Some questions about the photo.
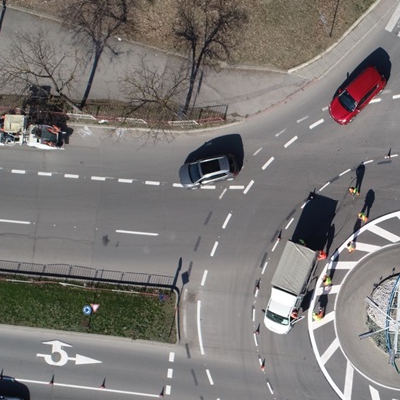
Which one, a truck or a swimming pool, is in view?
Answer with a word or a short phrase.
truck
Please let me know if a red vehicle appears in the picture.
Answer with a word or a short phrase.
Yes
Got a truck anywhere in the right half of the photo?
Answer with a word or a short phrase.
Yes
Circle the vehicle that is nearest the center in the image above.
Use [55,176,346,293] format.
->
[178,151,239,190]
